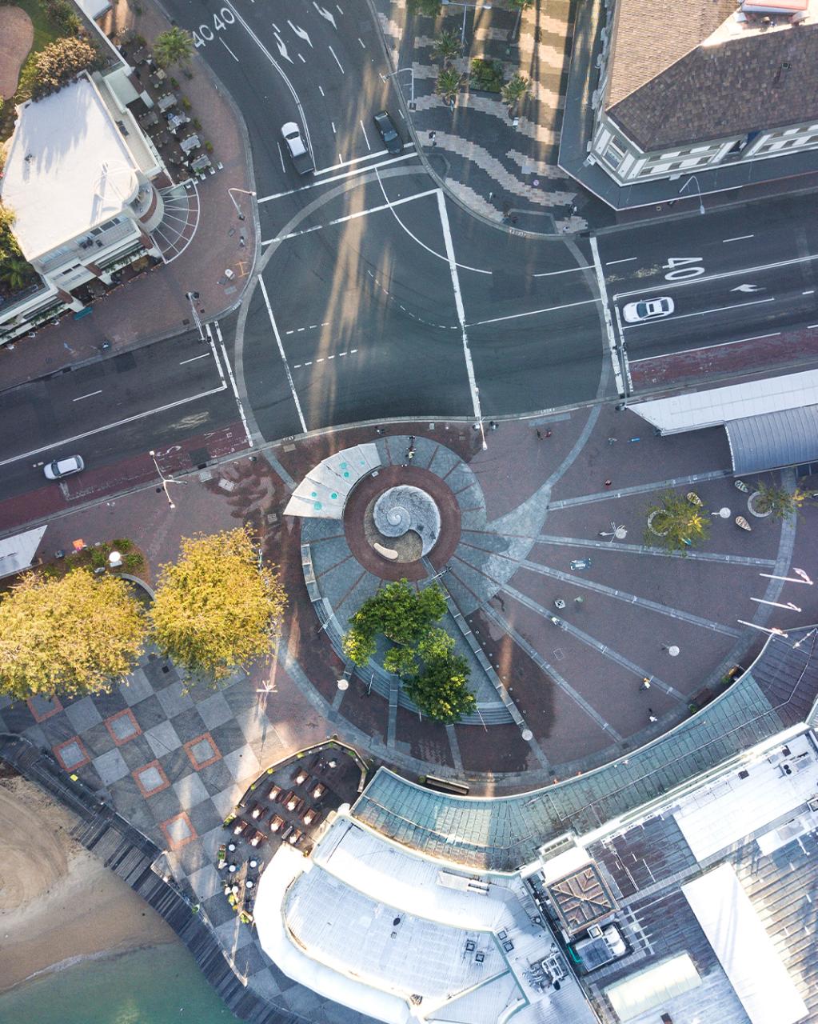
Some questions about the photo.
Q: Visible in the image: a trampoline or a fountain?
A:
fountain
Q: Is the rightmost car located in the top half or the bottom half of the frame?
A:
top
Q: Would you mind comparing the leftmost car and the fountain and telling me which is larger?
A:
the fountain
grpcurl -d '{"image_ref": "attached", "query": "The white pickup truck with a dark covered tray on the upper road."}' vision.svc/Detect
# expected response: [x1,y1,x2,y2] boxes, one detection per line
[282,117,316,174]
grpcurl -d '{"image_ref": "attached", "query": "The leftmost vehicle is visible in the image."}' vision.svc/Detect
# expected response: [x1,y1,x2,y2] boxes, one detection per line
[40,453,84,480]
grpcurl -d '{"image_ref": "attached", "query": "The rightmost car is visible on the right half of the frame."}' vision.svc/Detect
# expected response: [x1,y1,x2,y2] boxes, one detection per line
[625,292,680,321]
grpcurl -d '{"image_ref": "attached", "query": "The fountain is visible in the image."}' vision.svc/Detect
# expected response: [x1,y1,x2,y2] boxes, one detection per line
[372,482,441,556]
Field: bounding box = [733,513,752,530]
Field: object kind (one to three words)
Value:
boat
